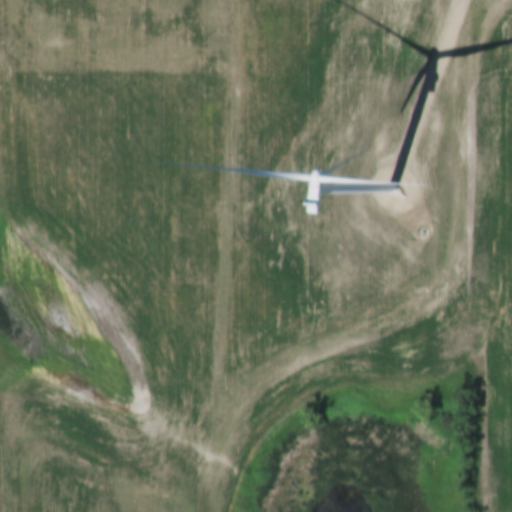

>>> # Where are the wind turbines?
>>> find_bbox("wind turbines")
[156,148,430,215]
